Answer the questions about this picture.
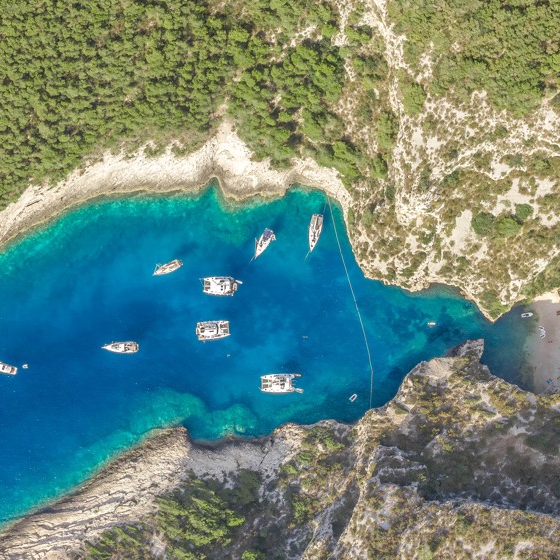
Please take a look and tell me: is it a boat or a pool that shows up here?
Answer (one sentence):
Visible in the photo is a boat.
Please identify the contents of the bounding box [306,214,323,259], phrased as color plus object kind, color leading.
white boat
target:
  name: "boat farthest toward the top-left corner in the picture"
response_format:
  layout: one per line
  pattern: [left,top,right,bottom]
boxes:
[155,259,184,275]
